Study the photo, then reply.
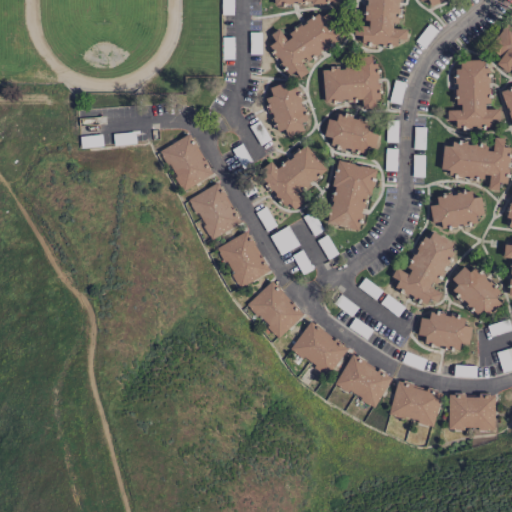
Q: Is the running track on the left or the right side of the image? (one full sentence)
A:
The running track is on the left side of the image.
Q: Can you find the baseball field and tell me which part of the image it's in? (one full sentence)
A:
The baseball field is in the top left part of the image.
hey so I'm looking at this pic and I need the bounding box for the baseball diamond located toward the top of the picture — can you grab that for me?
[39,0,170,80]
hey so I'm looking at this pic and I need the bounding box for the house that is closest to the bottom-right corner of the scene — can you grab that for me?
[450,394,498,431]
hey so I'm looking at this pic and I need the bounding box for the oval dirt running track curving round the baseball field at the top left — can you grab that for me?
[26,0,182,92]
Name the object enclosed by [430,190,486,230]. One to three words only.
building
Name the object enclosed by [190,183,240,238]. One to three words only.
house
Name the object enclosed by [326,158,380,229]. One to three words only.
building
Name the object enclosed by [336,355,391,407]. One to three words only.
house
